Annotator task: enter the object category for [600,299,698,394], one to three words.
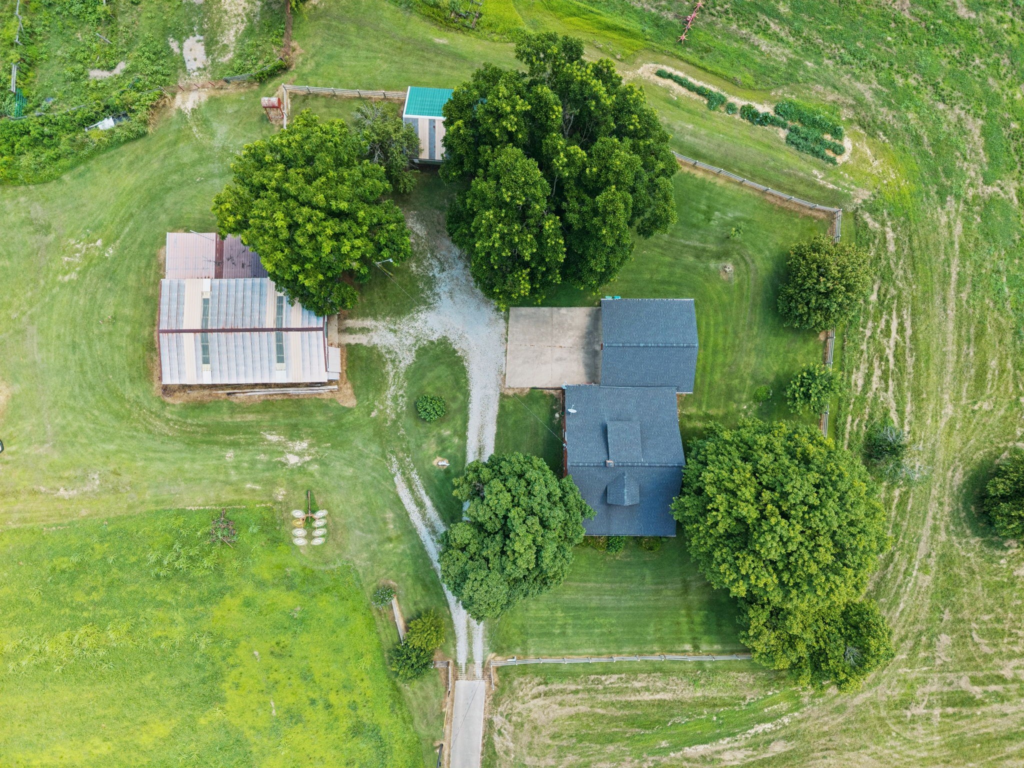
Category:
building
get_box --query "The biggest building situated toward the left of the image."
[154,278,334,385]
